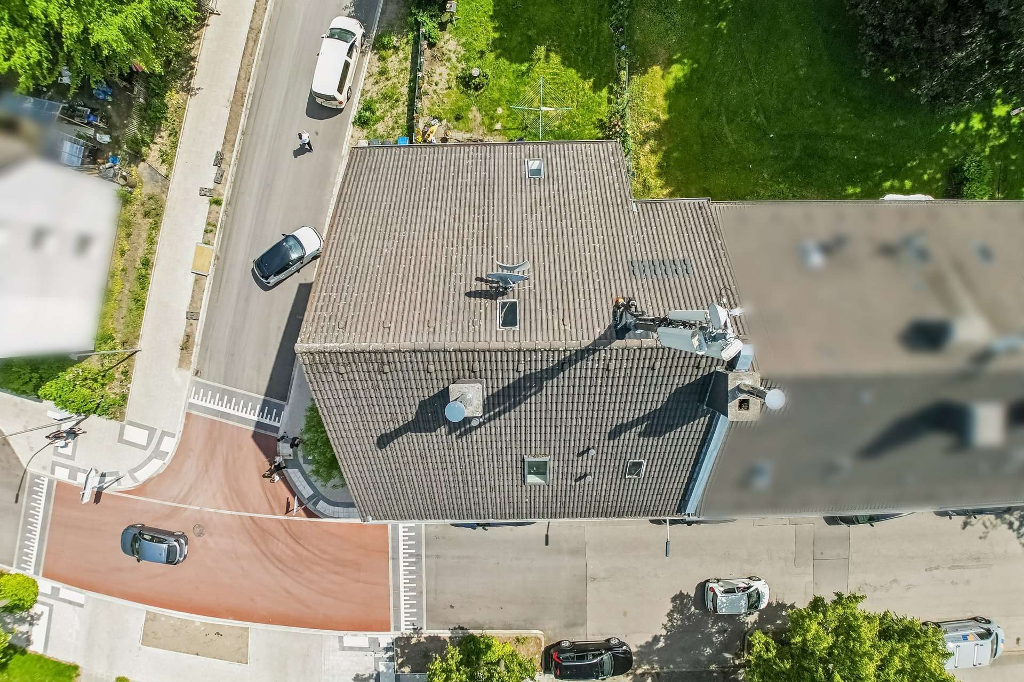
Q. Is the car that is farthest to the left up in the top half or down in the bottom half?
bottom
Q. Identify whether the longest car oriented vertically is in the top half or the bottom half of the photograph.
top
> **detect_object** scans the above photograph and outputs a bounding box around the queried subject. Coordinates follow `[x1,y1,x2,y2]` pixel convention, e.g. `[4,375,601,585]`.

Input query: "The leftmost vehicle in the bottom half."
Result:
[118,526,189,566]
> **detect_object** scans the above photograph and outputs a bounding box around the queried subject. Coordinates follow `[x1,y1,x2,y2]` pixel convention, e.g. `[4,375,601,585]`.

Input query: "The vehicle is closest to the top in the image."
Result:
[311,16,363,105]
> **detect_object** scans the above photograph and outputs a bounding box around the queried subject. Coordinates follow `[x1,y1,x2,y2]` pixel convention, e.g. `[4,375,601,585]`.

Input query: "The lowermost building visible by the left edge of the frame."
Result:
[0,147,117,357]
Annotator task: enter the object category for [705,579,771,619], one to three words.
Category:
car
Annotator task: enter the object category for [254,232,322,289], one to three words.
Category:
car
